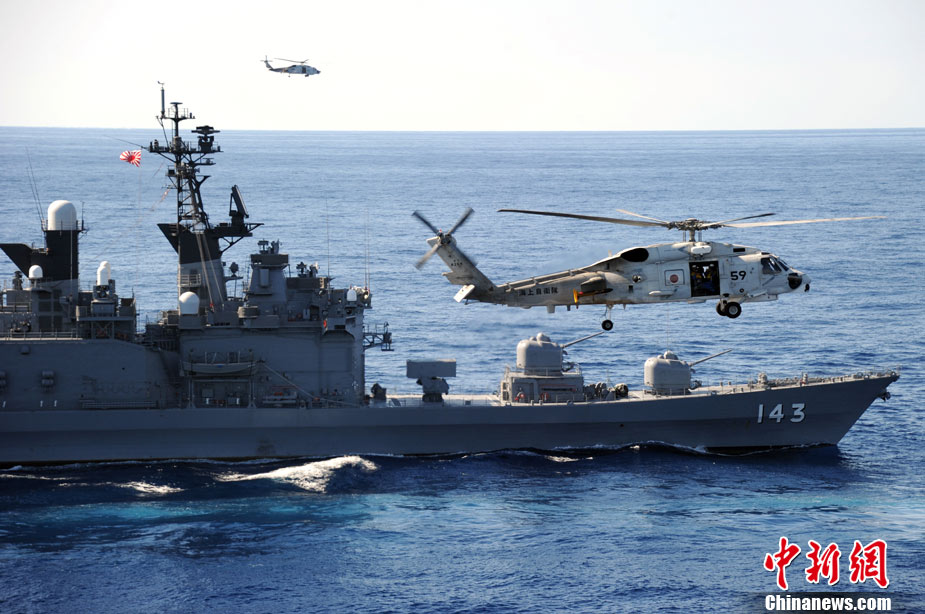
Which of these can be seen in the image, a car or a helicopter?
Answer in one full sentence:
Visible in the photo is a helicopter.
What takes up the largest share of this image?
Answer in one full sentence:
The scene is dominated by water.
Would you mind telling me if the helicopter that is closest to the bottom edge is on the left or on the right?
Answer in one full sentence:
The helicopter that is closest to the bottom edge is on the right side of the image.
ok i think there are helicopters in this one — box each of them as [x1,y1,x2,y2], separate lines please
[411,207,883,330]
[260,55,320,77]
